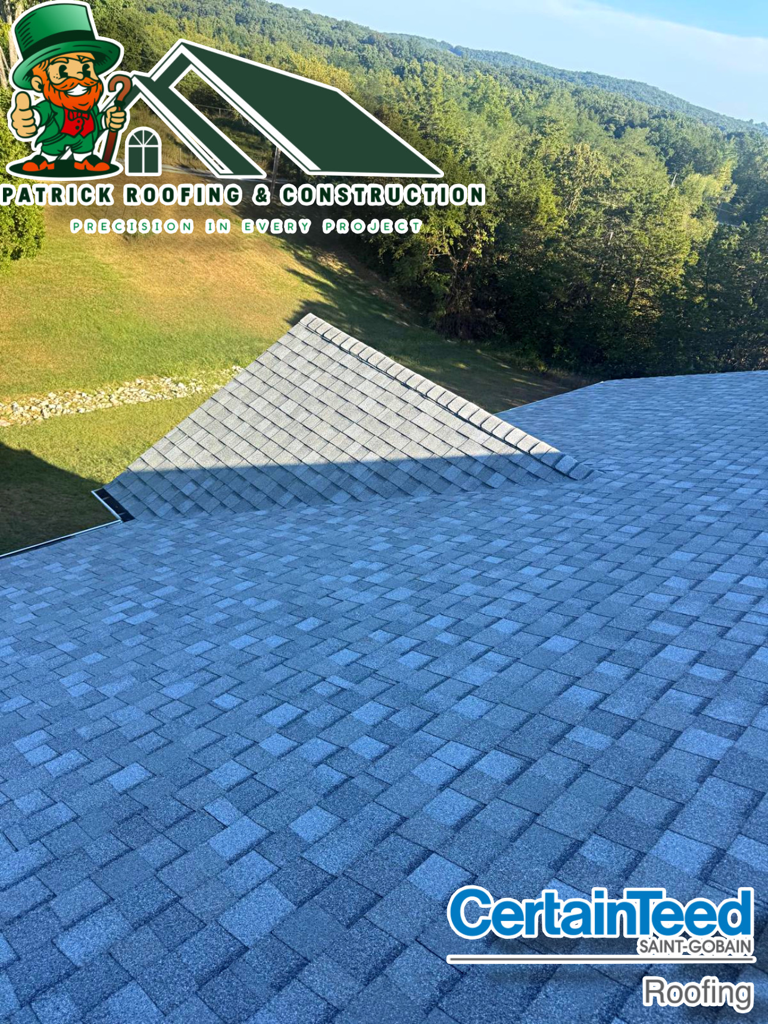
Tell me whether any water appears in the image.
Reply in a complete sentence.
No, no water is visible.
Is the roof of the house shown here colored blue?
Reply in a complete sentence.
Yes, the roof of the house appears blue.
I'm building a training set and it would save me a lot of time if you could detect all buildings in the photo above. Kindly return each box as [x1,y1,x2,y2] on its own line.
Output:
[0,315,768,1024]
